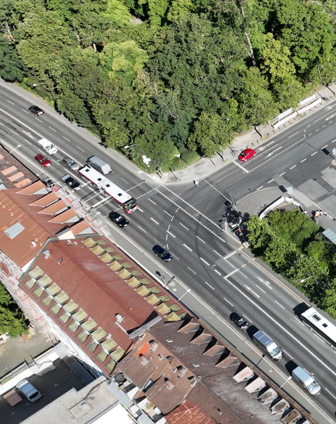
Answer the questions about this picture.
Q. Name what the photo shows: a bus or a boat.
bus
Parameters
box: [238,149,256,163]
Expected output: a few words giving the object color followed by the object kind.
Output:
red vehicle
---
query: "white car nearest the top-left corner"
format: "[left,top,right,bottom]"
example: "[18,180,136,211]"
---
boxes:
[40,136,56,150]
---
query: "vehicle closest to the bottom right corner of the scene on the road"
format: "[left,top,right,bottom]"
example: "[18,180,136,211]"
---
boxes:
[291,362,321,394]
